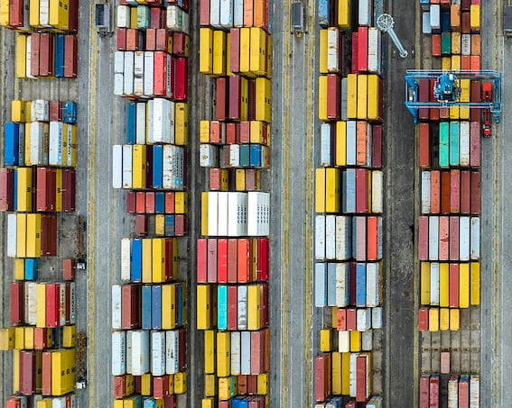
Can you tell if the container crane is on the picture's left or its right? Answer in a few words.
right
